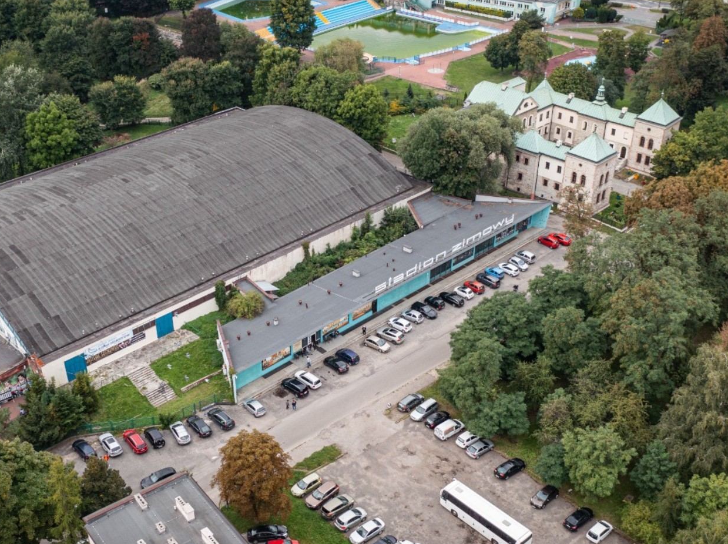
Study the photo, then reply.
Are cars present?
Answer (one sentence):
Yes, there is a car in the image.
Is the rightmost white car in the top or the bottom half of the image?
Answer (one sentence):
The rightmost white car is in the bottom half of the image.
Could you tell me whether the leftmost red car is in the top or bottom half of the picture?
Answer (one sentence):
The bottom half of the photo is where the leftmost red car is.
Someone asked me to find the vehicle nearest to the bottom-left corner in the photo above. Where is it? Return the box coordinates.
[72,437,97,463]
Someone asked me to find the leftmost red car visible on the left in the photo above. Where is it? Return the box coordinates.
[122,429,150,456]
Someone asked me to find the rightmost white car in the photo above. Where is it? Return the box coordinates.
[585,521,613,544]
